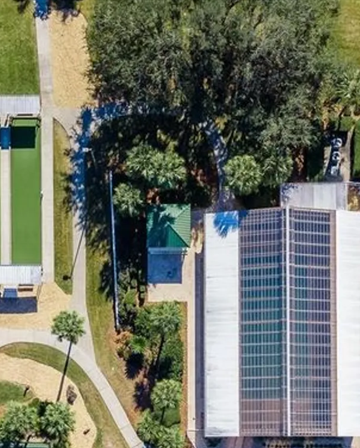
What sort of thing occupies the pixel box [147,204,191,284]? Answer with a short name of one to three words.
shed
